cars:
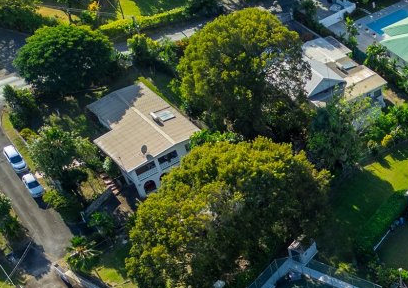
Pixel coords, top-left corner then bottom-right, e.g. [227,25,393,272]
[4,146,27,169]
[20,174,44,196]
